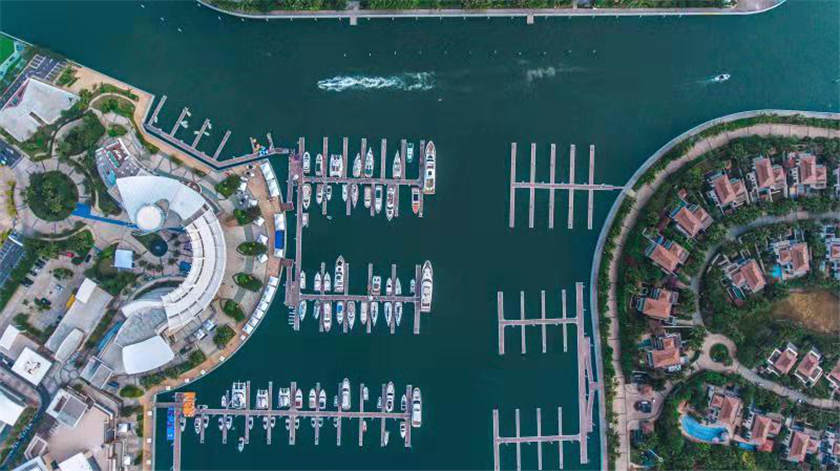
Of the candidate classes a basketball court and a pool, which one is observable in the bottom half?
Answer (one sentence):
It is a pool that can be seen in the bottom half.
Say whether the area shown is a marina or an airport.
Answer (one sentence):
This looks like a marina.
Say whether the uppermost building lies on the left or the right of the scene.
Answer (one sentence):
The uppermost building sits on the left side.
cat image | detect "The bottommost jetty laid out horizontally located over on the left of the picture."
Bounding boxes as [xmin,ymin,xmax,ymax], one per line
[182,381,413,447]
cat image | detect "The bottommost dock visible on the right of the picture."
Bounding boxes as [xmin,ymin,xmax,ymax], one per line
[491,407,581,471]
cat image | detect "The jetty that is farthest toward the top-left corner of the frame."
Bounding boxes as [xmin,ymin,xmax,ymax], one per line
[146,95,290,167]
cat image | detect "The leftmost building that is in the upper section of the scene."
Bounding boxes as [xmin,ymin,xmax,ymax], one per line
[0,79,84,142]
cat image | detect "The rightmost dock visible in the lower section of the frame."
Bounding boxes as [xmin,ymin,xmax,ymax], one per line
[576,282,600,464]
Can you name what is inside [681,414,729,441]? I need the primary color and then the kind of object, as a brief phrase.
blue swimming pool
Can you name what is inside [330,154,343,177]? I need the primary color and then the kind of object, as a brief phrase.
white boat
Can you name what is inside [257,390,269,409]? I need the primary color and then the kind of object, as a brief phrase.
white boat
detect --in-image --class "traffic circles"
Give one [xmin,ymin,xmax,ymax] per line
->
[701,333,737,369]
